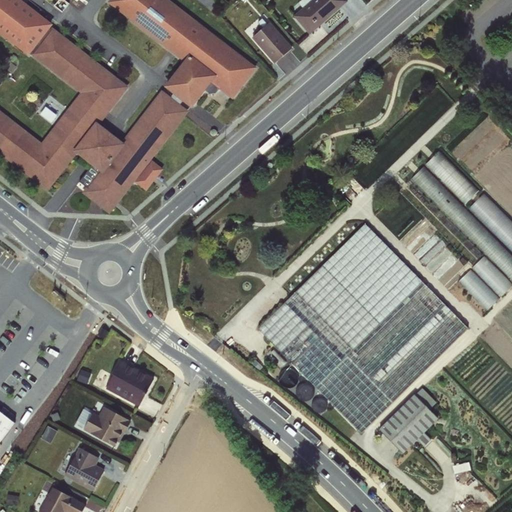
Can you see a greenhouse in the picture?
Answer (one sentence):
Yes, I can see a greenhouse in this picture.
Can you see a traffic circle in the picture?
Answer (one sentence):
Yes, this view includes a traffic circle.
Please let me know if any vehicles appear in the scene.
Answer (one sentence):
Yes, there's a vehicle here.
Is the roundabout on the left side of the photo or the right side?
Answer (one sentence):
The roundabout sits on the left side.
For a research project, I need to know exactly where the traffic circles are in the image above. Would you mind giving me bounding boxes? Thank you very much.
[46,228,164,340]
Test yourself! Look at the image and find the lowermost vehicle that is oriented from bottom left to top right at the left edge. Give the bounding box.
[18,407,34,426]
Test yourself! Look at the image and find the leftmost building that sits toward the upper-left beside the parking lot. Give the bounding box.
[0,24,127,188]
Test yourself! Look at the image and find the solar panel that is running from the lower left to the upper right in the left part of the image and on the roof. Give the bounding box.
[114,126,161,184]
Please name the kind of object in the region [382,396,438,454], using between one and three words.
barn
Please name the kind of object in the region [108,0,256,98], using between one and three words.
building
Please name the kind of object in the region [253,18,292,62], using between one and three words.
house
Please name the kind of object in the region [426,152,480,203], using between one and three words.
greenhouse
